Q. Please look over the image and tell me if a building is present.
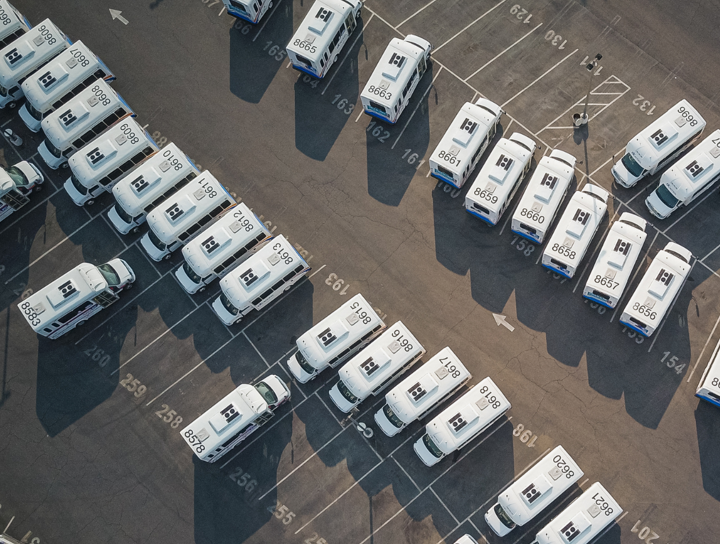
No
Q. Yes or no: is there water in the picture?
No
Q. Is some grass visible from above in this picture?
No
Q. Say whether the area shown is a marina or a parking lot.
parking lot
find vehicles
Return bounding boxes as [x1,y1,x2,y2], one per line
[283,294,387,385]
[288,0,366,82]
[520,483,622,544]
[136,171,237,263]
[17,259,134,344]
[325,323,427,414]
[429,98,508,192]
[362,34,438,126]
[207,235,310,327]
[481,447,583,539]
[180,376,291,468]
[0,162,45,220]
[540,185,618,281]
[694,341,720,409]
[170,204,274,294]
[0,20,73,109]
[609,99,706,190]
[465,132,544,227]
[0,0,33,50]
[618,243,698,340]
[579,214,657,311]
[12,41,115,133]
[509,149,587,245]
[644,130,720,220]
[411,378,513,469]
[59,117,160,207]
[223,0,273,26]
[32,80,136,171]
[102,144,202,235]
[370,348,473,438]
